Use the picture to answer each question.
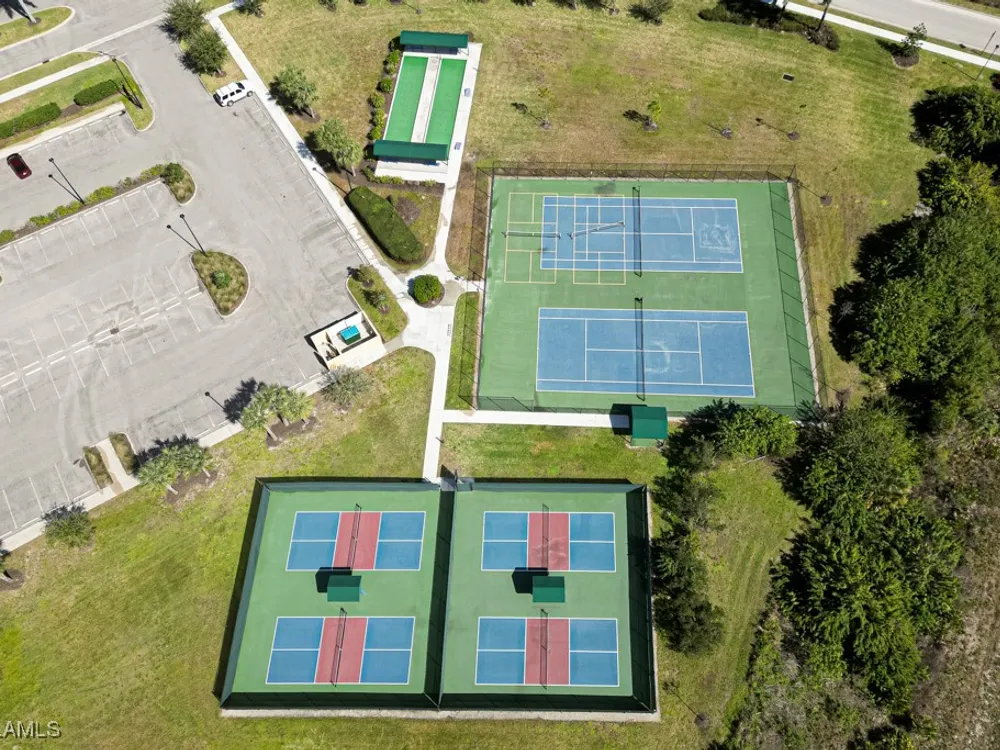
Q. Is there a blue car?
No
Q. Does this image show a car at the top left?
Yes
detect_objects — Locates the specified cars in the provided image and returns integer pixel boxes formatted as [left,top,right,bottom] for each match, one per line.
[215,78,255,104]
[6,150,33,181]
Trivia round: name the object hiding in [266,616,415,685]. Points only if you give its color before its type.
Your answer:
blue sports court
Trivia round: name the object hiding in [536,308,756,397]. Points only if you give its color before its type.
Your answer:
blue tennis court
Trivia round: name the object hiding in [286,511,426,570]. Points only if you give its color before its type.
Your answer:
blue sports court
